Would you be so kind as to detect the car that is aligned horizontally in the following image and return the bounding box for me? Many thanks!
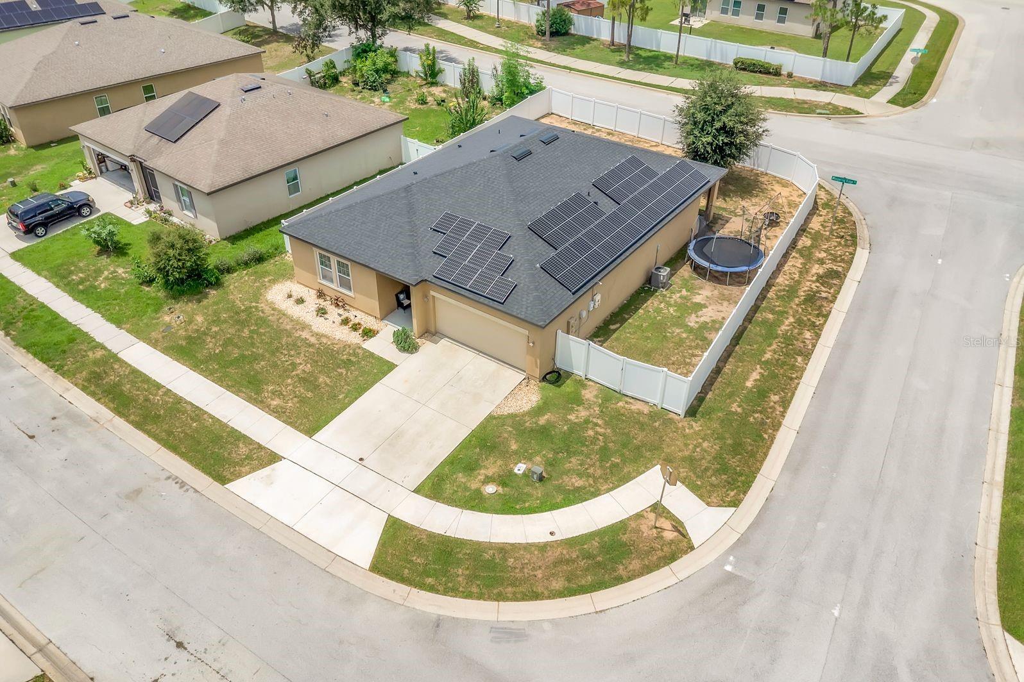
[2,193,100,239]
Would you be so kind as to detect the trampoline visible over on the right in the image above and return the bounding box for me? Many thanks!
[686,207,770,284]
